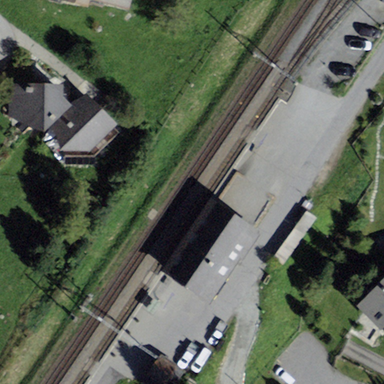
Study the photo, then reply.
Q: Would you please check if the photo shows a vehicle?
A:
Yes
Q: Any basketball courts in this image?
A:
No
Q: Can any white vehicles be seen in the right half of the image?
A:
Yes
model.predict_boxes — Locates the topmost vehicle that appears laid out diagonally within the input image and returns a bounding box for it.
[208,322,228,344]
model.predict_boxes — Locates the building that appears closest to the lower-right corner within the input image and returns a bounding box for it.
[359,268,384,330]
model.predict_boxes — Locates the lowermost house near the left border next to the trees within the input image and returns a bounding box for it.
[9,82,120,165]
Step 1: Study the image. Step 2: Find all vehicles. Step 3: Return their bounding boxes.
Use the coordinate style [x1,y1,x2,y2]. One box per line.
[274,365,300,384]
[349,38,372,48]
[358,24,382,38]
[192,346,213,372]
[178,341,200,368]
[333,64,356,76]
[208,322,228,344]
